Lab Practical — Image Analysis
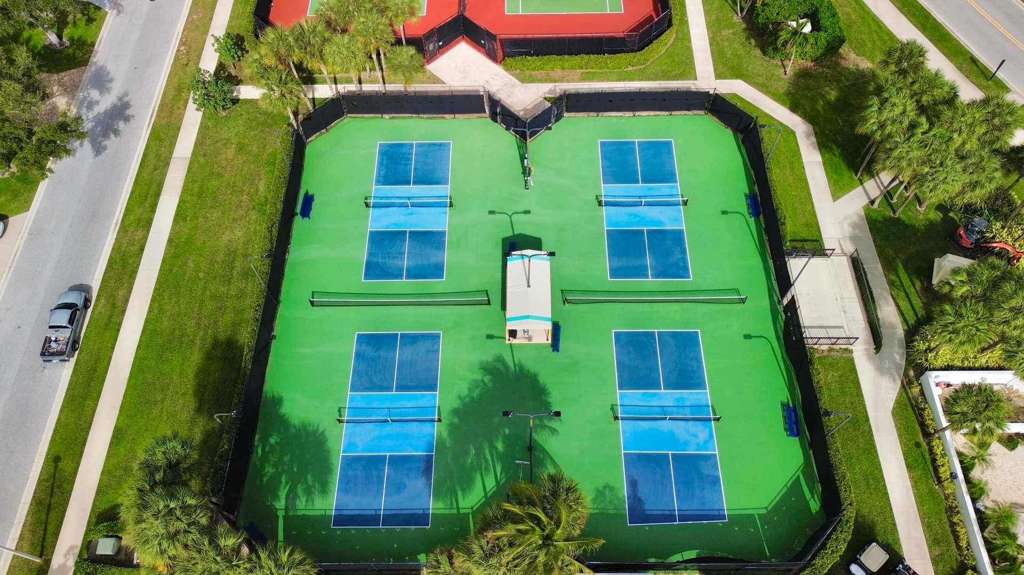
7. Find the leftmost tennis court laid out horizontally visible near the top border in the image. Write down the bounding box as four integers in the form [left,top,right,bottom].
[263,0,464,66]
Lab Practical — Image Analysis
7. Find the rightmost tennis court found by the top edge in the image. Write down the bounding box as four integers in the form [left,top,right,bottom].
[462,0,668,65]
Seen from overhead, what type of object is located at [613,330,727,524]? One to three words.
sports court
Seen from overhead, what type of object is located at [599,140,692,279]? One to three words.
sports court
